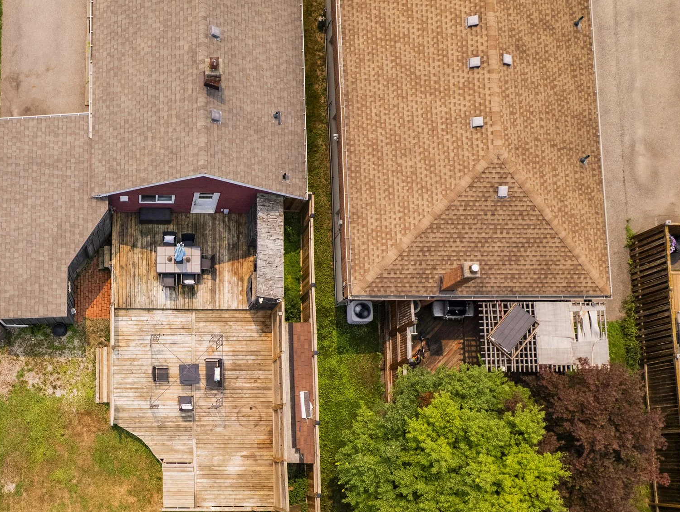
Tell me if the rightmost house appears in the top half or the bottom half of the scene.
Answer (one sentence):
It is in the top half that the rightmost house appears.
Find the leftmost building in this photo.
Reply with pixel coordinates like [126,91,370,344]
[0,111,110,328]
